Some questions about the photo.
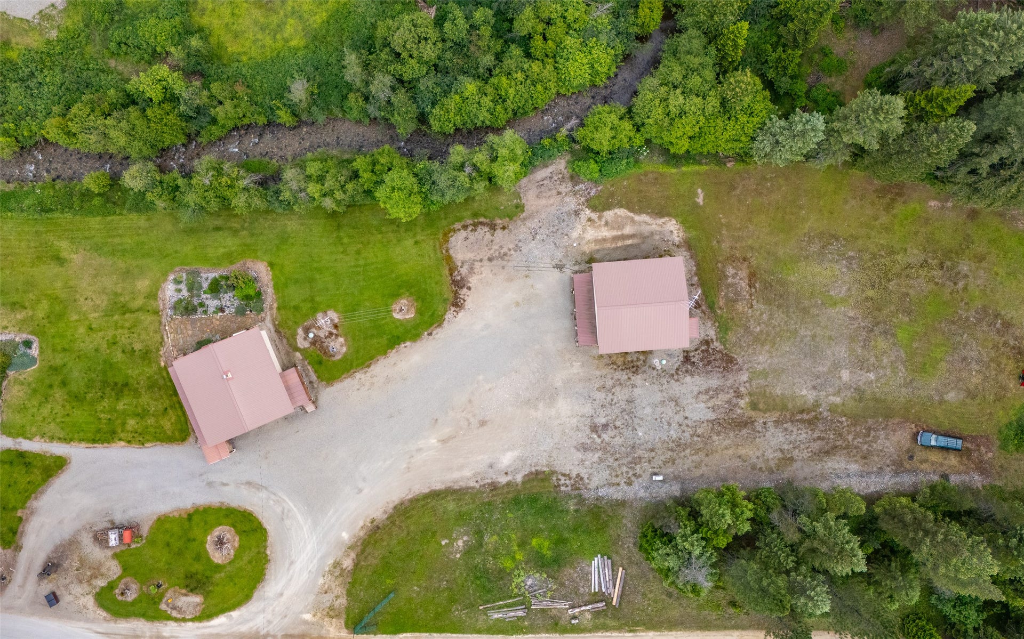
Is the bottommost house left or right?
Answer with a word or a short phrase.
left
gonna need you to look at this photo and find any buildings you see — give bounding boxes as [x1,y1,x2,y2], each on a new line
[169,326,318,465]
[571,257,700,354]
